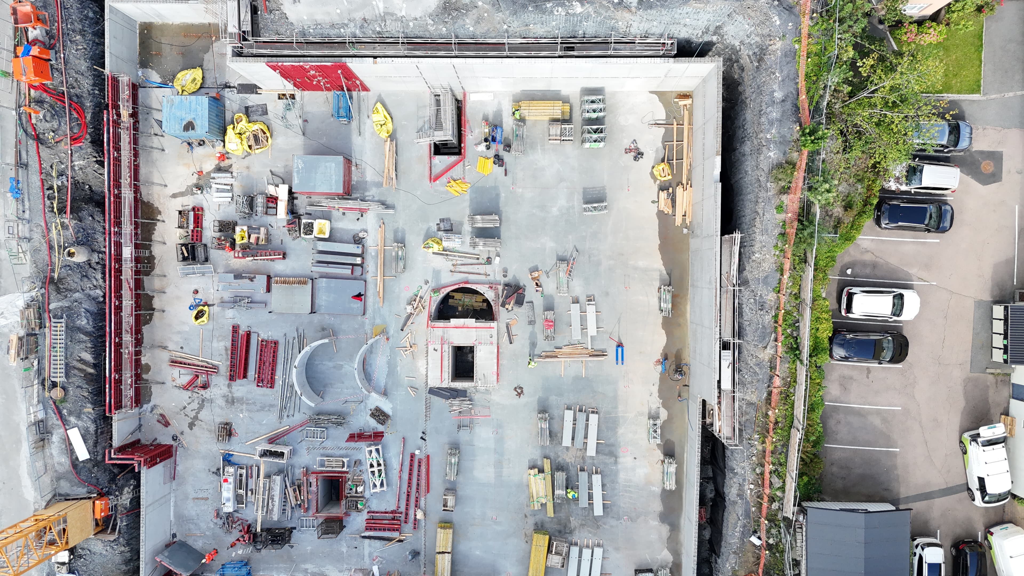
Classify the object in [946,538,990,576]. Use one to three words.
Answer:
car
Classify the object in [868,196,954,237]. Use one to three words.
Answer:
car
